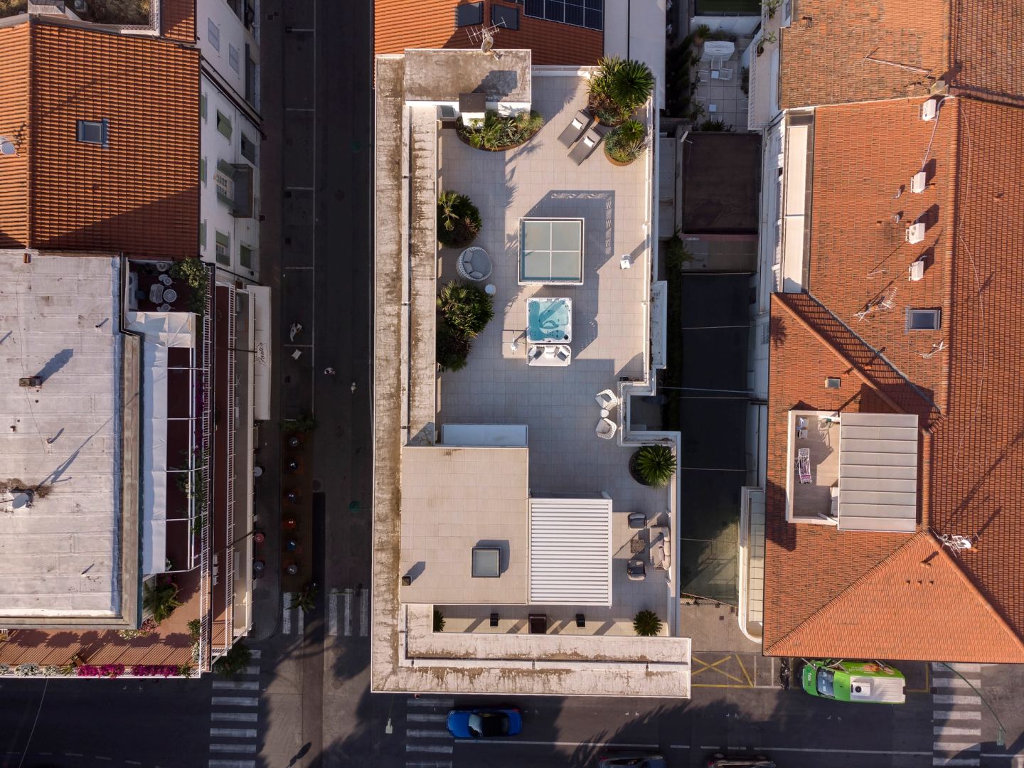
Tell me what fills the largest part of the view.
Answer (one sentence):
Most of the picture is covered by buildings.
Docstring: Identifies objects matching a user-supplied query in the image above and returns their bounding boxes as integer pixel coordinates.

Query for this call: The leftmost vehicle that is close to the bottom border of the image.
[449,706,520,743]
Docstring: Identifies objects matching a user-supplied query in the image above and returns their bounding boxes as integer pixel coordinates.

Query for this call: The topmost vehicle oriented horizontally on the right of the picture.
[798,661,907,706]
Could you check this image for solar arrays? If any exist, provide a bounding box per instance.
[523,0,597,26]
